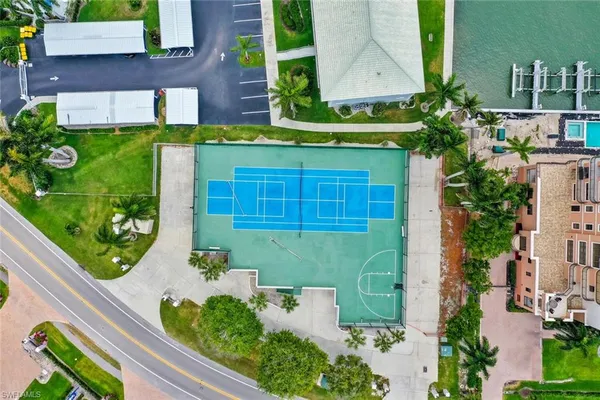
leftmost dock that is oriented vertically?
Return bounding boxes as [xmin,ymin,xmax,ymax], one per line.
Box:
[530,60,546,113]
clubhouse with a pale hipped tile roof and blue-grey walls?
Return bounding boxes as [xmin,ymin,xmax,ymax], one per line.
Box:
[312,0,425,113]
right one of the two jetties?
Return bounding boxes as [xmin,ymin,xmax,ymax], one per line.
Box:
[571,61,589,113]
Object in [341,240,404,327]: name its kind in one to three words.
basketball court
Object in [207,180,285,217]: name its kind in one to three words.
sports court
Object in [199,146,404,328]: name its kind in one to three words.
tennis court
